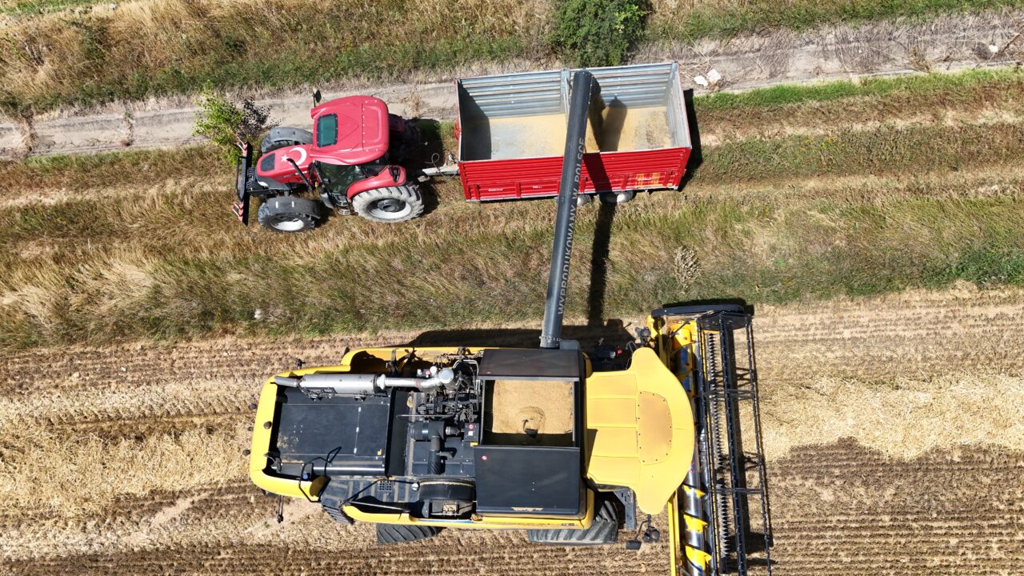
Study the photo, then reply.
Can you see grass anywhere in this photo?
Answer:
Yes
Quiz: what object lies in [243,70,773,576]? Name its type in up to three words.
work vehicle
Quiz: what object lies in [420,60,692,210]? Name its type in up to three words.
trailer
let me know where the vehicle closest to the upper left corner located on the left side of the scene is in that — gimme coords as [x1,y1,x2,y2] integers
[232,88,434,233]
